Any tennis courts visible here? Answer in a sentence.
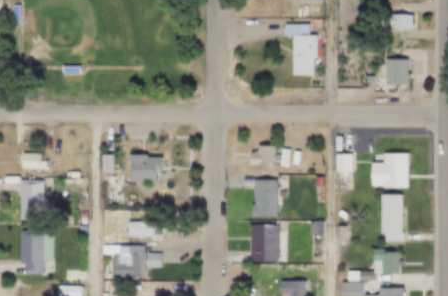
No, the picture doesn't show any tennis court.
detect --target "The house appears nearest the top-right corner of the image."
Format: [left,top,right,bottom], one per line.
[390,14,414,30]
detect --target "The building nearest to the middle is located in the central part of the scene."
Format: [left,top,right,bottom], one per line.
[249,146,278,166]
